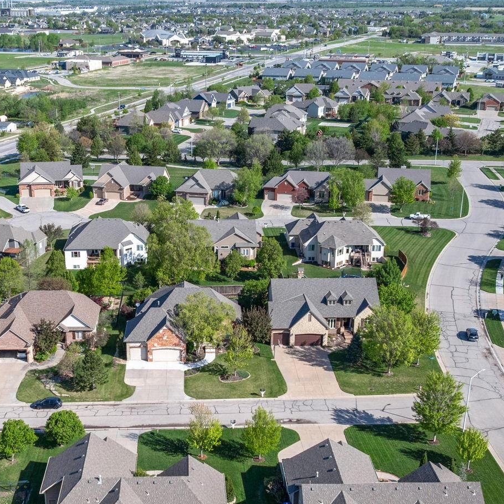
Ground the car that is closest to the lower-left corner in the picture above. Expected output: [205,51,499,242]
[30,393,62,408]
